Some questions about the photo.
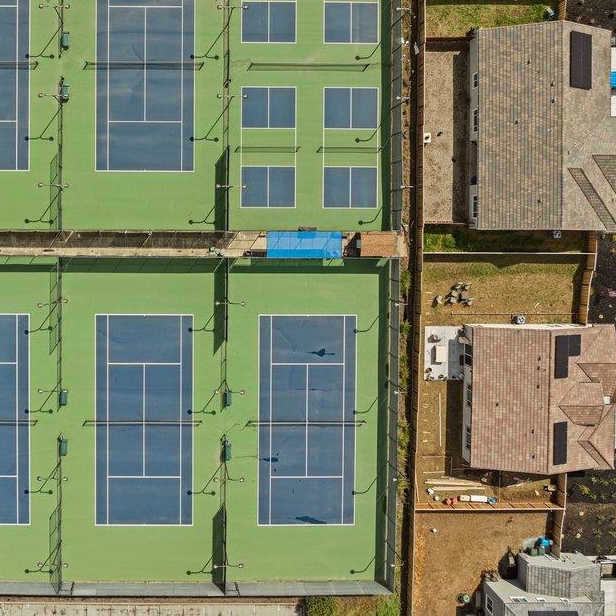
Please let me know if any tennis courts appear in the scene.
Yes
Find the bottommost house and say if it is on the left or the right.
right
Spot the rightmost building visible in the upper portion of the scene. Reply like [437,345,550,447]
[470,20,616,231]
